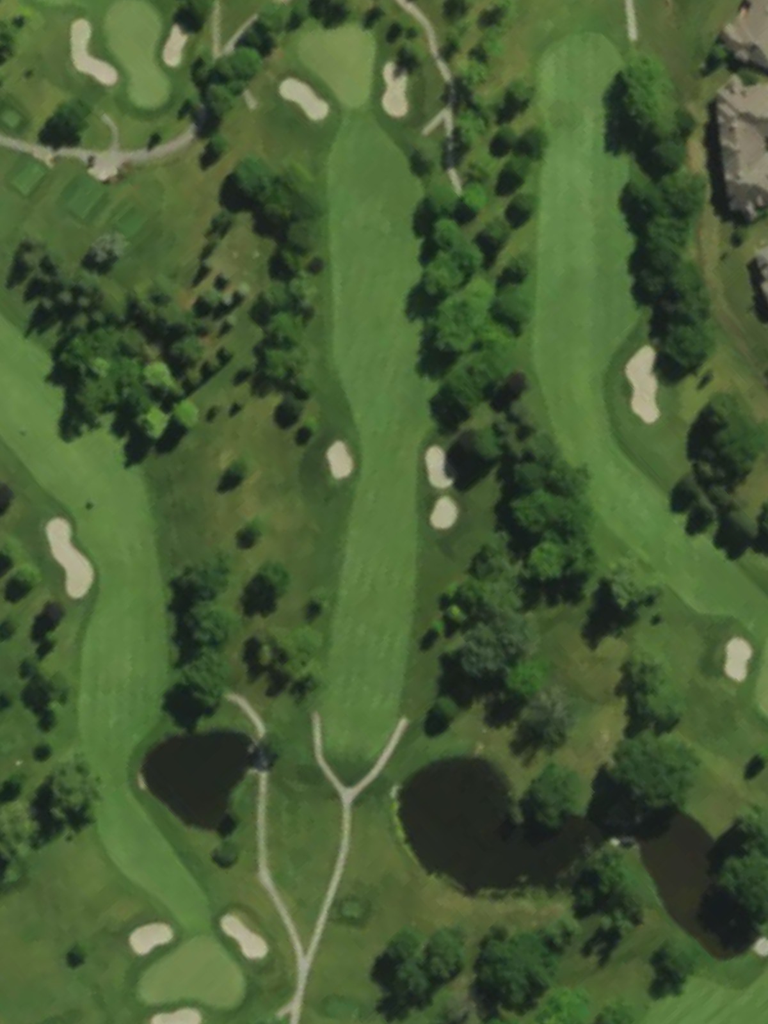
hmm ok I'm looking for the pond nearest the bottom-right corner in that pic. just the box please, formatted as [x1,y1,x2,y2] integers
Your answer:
[399,755,761,959]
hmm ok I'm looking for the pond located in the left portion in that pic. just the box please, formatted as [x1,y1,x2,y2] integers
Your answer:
[142,729,279,831]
